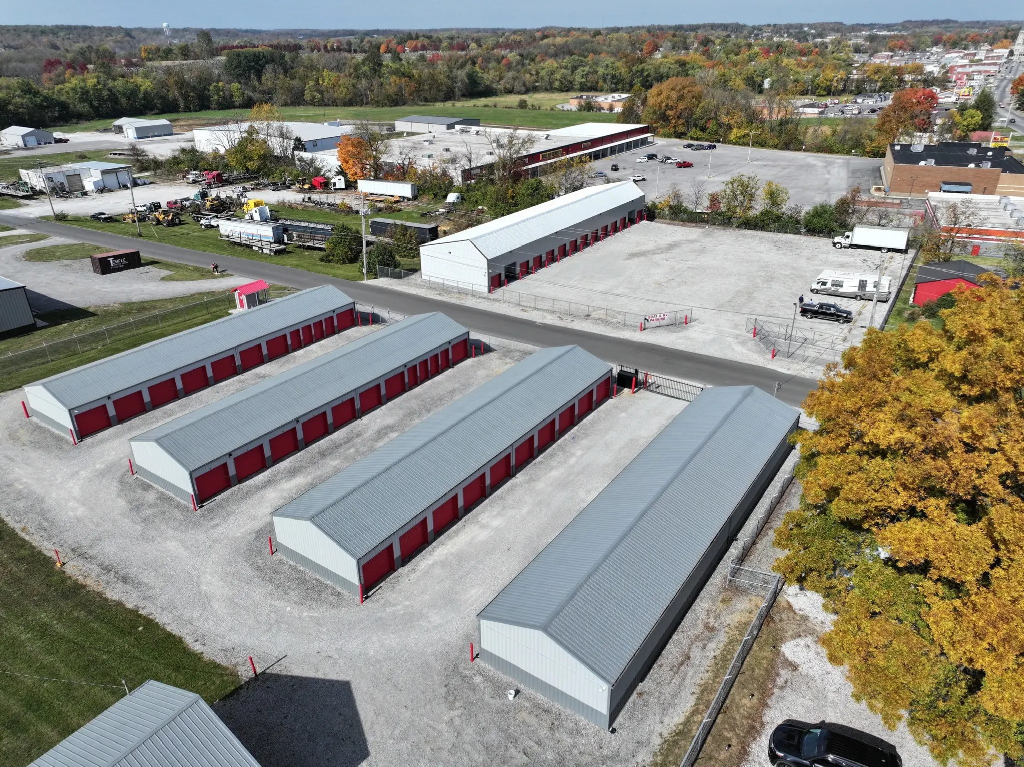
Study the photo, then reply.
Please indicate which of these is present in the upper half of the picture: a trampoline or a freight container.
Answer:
freight container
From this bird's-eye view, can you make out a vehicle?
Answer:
Yes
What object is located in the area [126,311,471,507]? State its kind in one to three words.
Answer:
building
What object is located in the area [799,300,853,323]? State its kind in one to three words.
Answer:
truck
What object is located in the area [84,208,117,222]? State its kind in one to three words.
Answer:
vehicle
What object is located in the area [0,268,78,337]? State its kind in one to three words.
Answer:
barn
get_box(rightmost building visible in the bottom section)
[475,385,800,729]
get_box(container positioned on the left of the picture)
[91,246,141,274]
